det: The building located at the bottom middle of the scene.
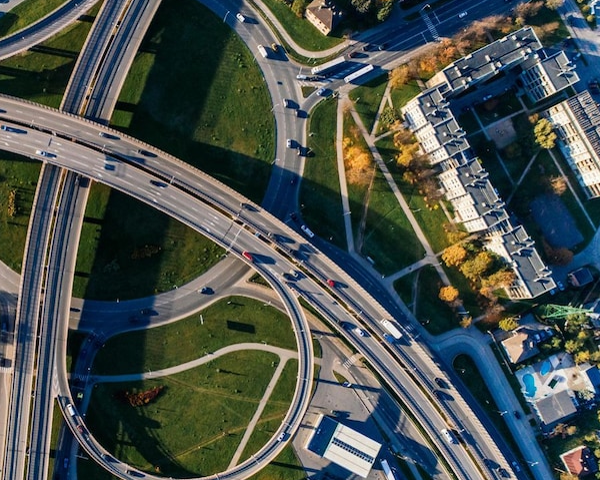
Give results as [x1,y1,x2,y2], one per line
[302,413,381,477]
